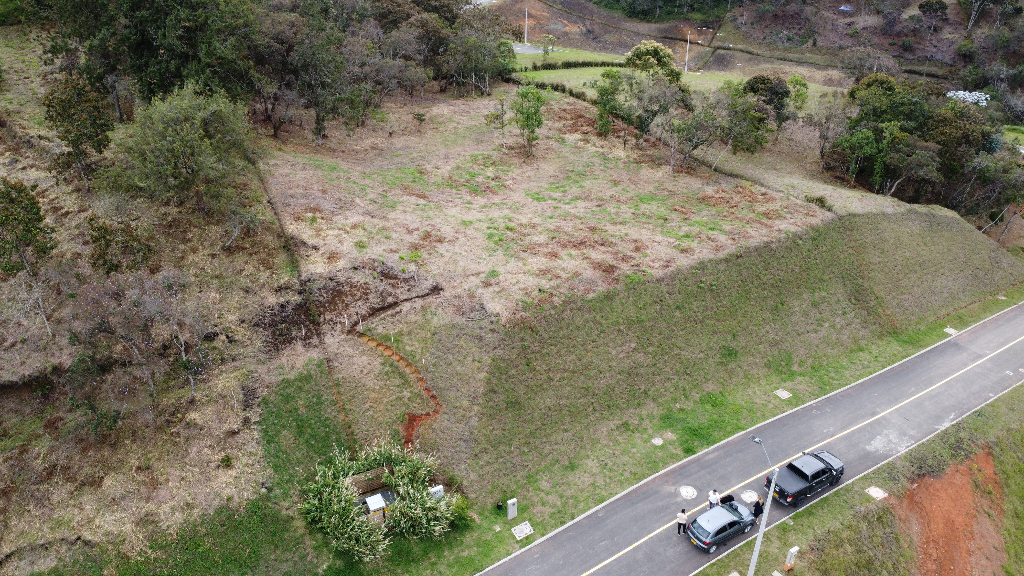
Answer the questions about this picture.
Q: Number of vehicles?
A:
two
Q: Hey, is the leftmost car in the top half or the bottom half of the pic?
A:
bottom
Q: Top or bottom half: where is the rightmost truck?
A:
bottom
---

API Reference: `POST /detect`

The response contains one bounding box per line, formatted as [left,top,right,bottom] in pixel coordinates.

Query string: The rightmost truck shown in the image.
[756,449,847,511]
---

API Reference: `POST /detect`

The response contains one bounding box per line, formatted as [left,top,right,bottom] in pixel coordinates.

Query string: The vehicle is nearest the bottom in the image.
[684,500,757,556]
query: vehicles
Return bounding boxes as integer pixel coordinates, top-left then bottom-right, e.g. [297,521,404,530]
[756,449,847,511]
[684,500,757,556]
